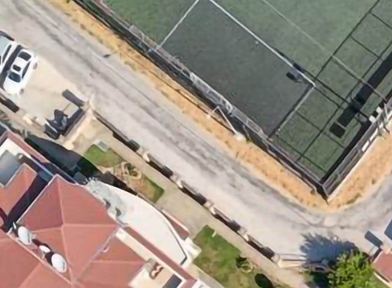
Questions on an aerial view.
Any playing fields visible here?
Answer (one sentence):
Yes, you can see a playing field in this photo.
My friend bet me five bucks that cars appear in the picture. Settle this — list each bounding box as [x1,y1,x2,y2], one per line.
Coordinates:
[1,46,40,95]
[0,31,19,78]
